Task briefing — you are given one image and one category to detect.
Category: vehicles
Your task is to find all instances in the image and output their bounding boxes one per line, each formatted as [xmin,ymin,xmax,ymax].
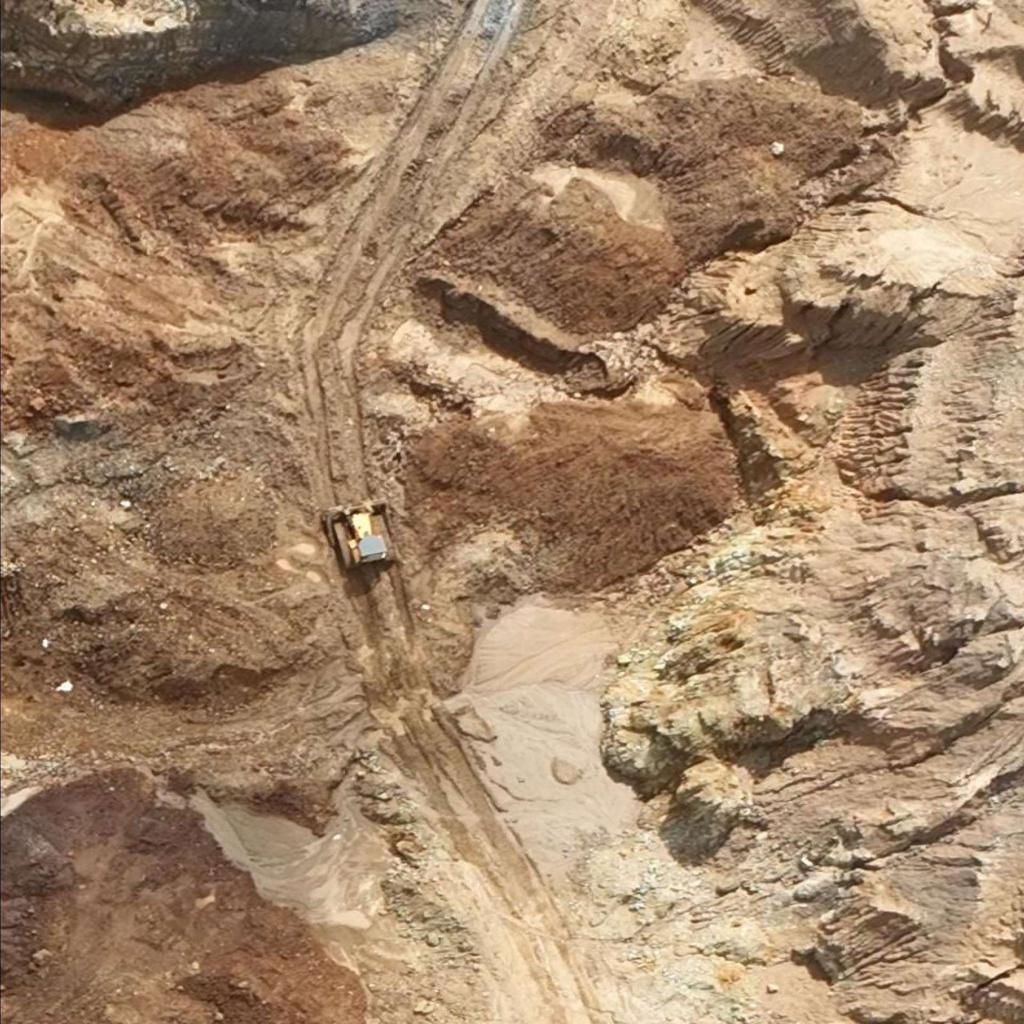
[331,498,394,566]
